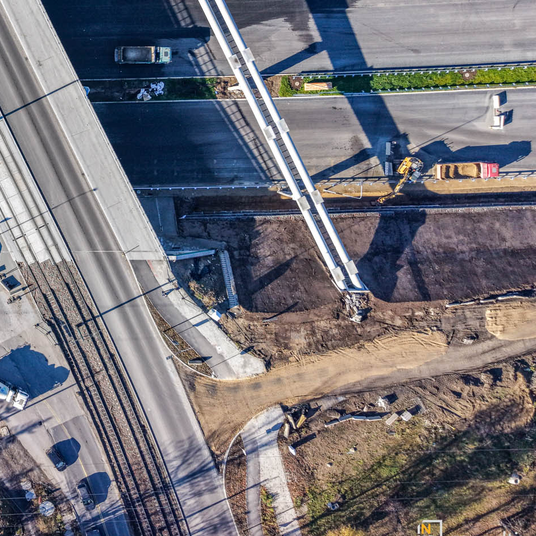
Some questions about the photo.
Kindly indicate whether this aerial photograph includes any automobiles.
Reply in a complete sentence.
Yes, you can see an automobile in this photo.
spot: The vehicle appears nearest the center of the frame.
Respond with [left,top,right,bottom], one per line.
[372,141,421,206]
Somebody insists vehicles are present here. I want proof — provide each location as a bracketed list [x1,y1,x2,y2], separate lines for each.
[75,478,96,512]
[372,141,421,206]
[44,443,67,473]
[114,44,172,66]
[0,381,33,418]
[429,159,501,181]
